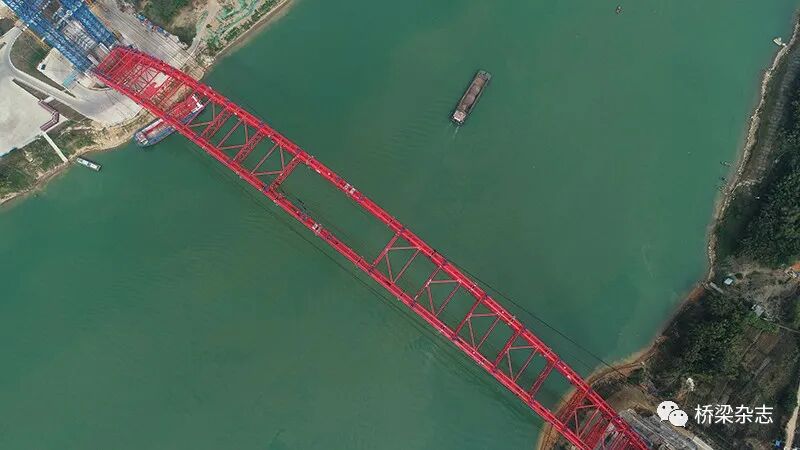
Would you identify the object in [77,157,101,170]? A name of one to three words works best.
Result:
boat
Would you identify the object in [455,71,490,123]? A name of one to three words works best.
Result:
ship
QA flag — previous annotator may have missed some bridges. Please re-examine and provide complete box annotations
[92,44,652,450]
